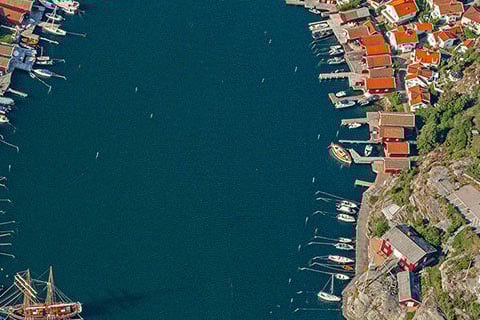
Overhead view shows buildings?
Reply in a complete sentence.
Yes, I can see a building in this picture.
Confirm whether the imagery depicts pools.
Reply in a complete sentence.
No, the photo shows no pool.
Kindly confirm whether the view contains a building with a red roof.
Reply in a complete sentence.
Yes, this view includes a building with a red roof.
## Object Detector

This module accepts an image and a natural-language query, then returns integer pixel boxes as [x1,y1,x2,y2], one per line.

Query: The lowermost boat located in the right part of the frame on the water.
[319,279,341,300]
